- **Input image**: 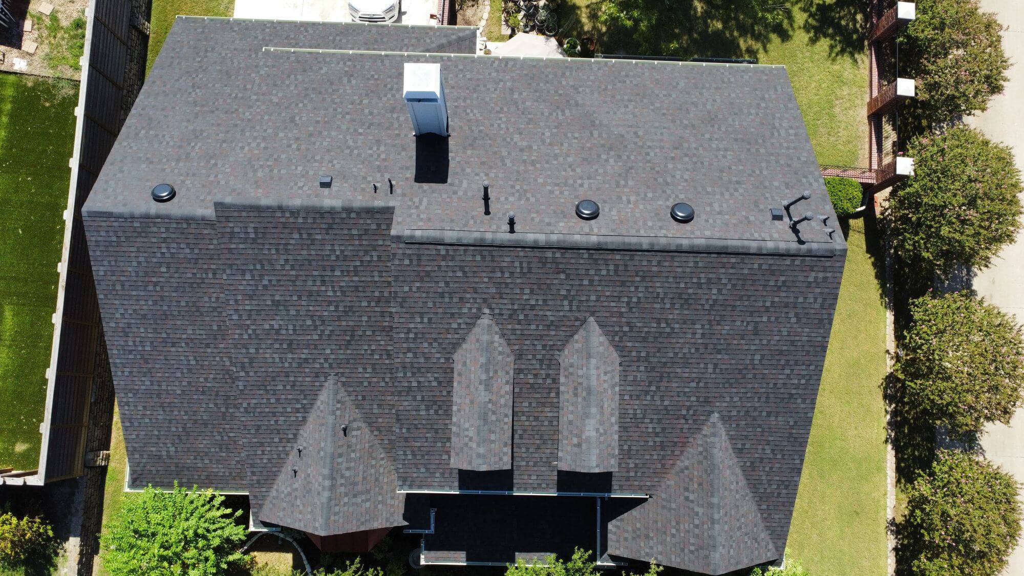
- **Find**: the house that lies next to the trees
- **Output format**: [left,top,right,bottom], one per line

[83,15,847,575]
